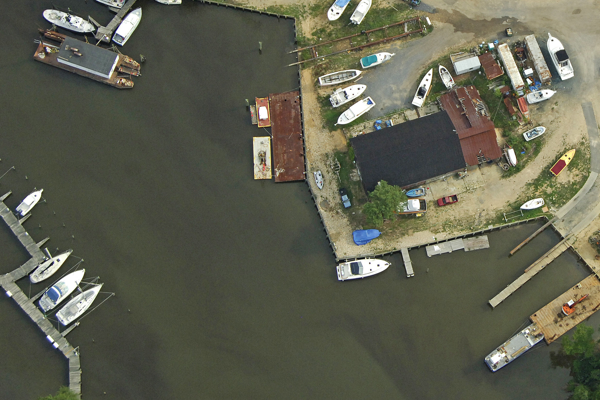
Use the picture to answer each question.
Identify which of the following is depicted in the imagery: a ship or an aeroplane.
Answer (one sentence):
Looking from above, you can make out a ship.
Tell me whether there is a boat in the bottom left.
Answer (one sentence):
Yes, a boat is visible in the bottom left.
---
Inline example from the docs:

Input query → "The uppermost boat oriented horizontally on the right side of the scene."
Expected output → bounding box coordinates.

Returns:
[360,51,396,70]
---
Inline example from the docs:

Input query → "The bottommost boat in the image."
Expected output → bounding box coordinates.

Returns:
[484,323,545,373]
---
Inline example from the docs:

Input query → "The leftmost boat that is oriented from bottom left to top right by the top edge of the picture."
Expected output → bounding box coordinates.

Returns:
[111,8,142,47]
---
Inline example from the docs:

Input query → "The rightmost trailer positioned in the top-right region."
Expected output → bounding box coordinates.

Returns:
[524,34,551,86]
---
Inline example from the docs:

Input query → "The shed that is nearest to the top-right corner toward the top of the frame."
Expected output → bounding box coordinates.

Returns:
[478,52,503,81]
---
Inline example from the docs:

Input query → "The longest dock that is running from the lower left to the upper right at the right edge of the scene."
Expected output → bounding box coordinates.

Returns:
[486,235,579,310]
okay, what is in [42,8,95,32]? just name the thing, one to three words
boat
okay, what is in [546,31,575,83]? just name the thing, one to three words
boat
